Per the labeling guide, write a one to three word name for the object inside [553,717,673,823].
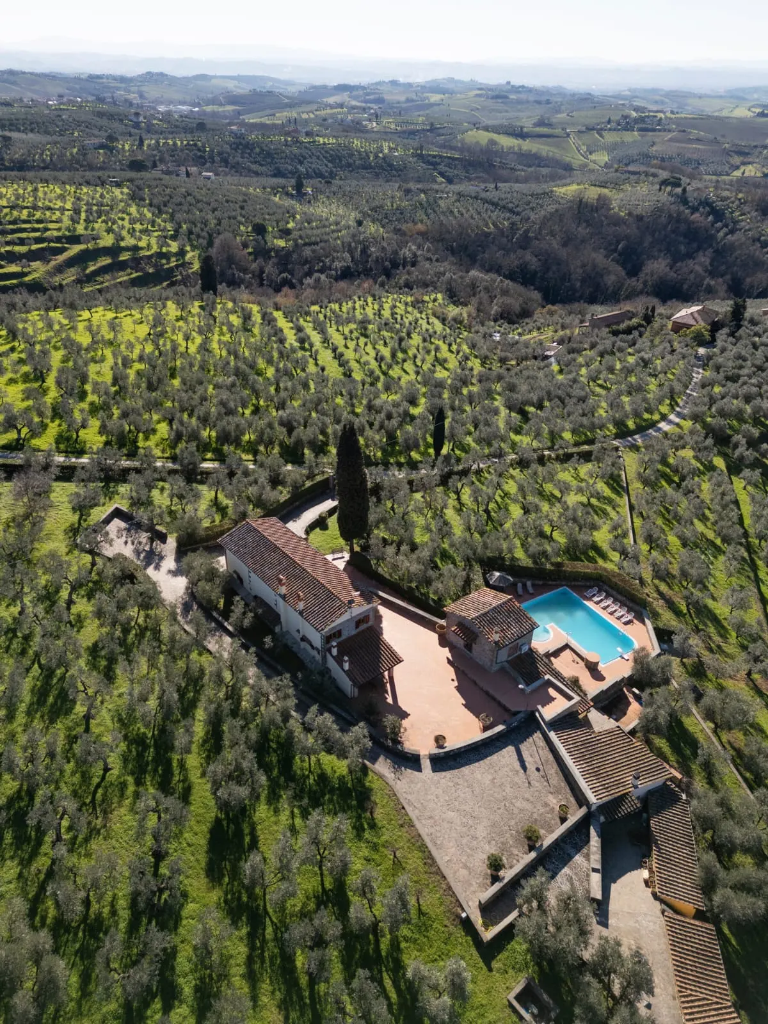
barn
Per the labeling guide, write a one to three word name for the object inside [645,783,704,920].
shed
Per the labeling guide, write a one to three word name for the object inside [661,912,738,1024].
shed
